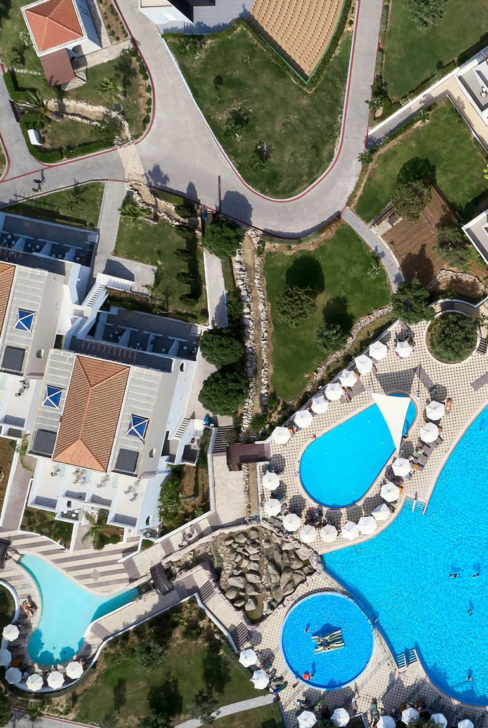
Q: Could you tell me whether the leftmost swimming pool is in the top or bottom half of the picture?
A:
bottom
